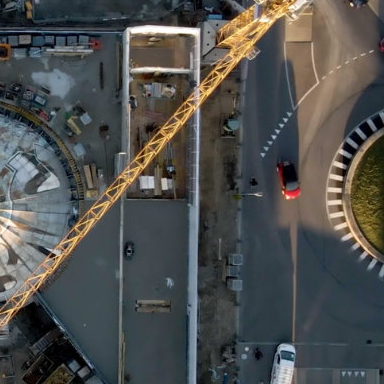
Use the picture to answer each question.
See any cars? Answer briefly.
Yes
